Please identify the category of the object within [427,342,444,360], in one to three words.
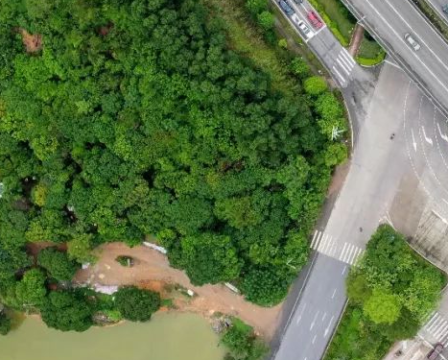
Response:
car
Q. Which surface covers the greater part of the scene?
trees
